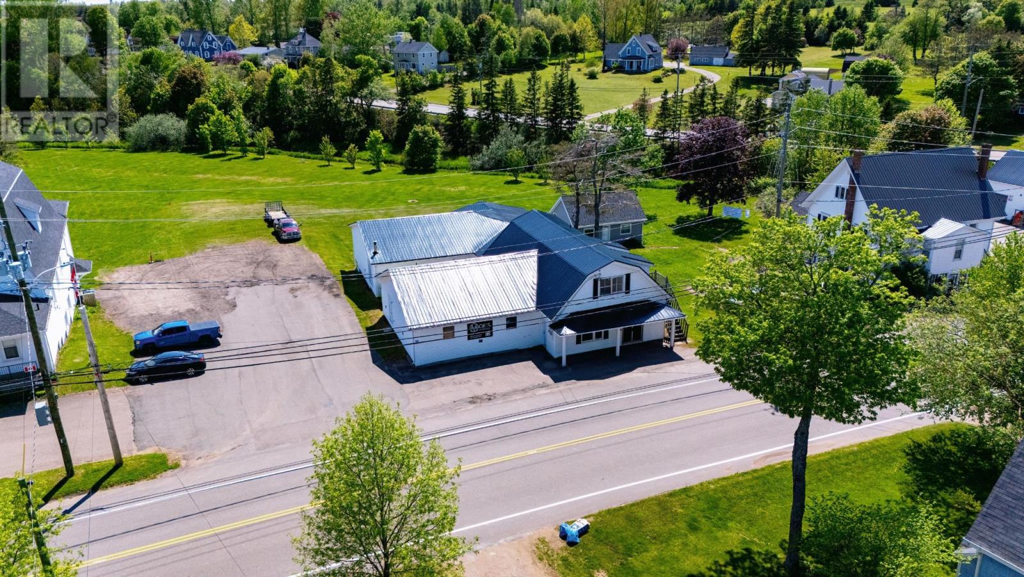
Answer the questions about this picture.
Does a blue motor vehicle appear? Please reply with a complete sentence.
Yes, this view includes a blue motor vehicle.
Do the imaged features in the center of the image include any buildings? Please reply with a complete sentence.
Yes, a building can be seen in the center of the image.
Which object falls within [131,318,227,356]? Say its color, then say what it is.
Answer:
blue truck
